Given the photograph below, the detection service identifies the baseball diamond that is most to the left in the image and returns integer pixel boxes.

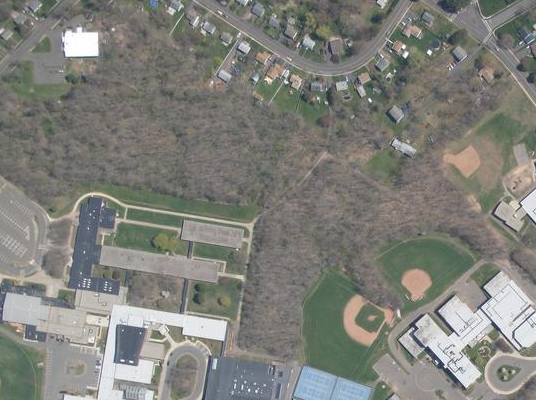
[300,270,401,388]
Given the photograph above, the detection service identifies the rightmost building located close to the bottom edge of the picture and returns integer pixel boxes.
[398,271,536,389]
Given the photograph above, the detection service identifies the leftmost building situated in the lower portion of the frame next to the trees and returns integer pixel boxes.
[2,197,245,400]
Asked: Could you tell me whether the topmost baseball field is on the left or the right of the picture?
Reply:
right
